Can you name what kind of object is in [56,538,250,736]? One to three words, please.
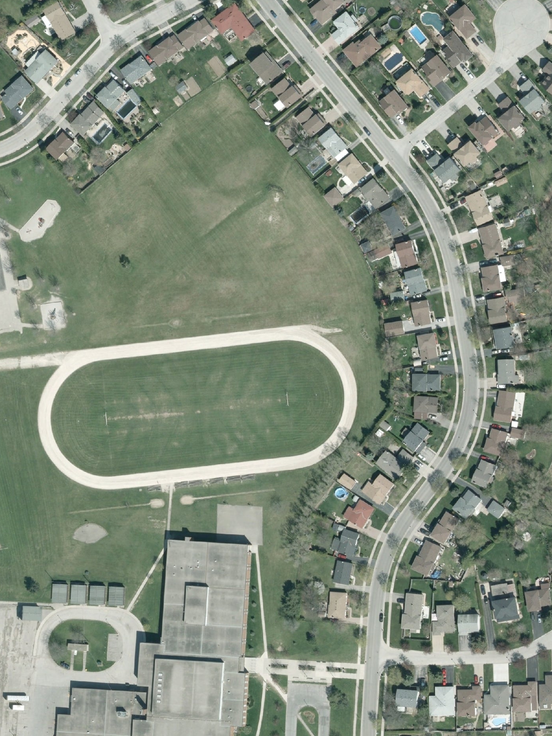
building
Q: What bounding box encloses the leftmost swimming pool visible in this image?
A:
[89,125,114,144]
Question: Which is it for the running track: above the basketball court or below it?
above it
